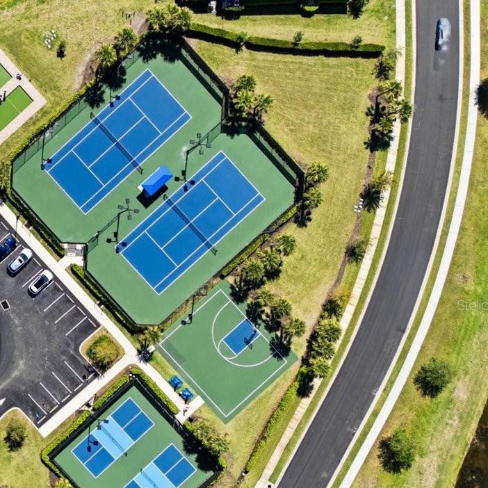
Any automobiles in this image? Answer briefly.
Yes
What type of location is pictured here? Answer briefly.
sports ground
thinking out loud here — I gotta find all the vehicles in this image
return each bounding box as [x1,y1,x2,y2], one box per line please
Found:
[7,250,33,276]
[27,270,54,295]
[436,20,452,48]
[0,237,16,260]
